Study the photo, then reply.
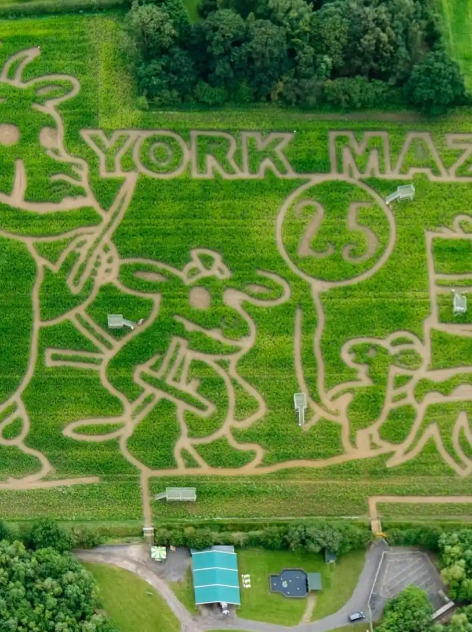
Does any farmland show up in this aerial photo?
Yes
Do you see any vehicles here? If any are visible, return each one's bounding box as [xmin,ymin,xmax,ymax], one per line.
[348,611,365,621]
[222,604,228,614]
